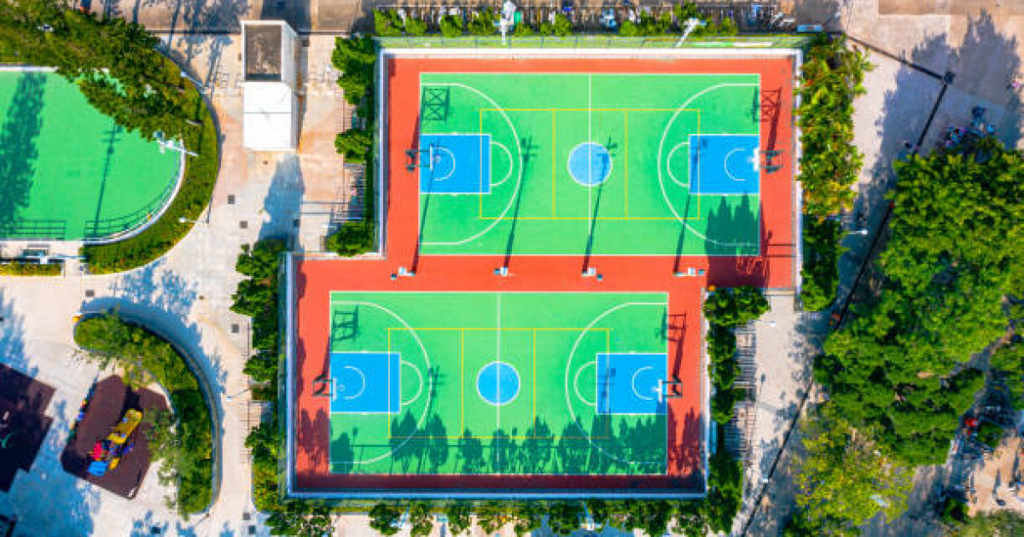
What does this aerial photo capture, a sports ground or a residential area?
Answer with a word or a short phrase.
sports ground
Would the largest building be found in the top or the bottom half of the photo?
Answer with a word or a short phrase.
top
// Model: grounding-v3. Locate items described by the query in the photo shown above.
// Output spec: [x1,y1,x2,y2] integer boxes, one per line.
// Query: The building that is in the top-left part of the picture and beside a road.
[241,20,299,155]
